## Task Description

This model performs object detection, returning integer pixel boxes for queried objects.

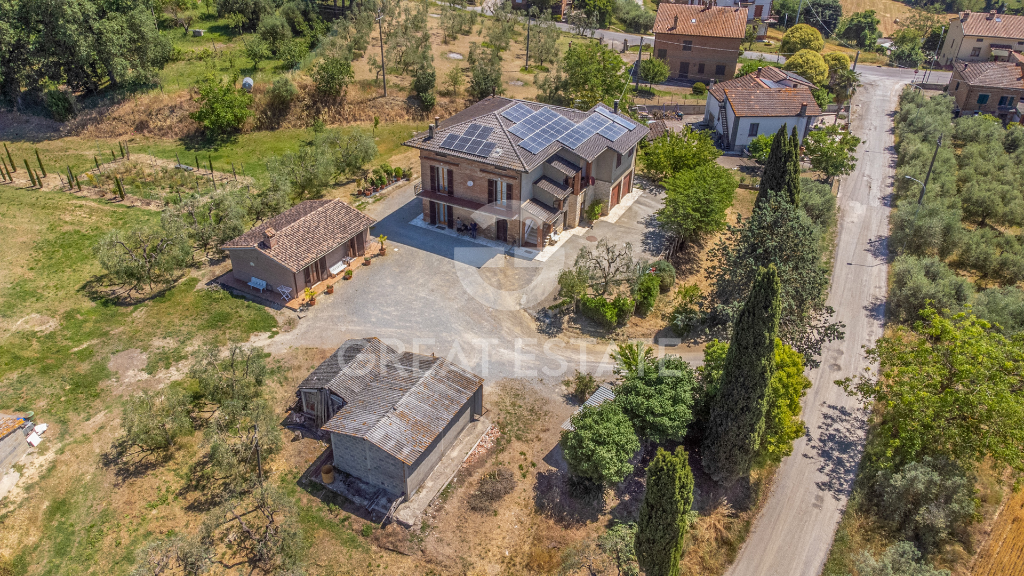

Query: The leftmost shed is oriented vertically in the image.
[0,400,29,465]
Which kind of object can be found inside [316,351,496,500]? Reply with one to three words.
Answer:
barn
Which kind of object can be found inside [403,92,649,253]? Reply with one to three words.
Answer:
house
